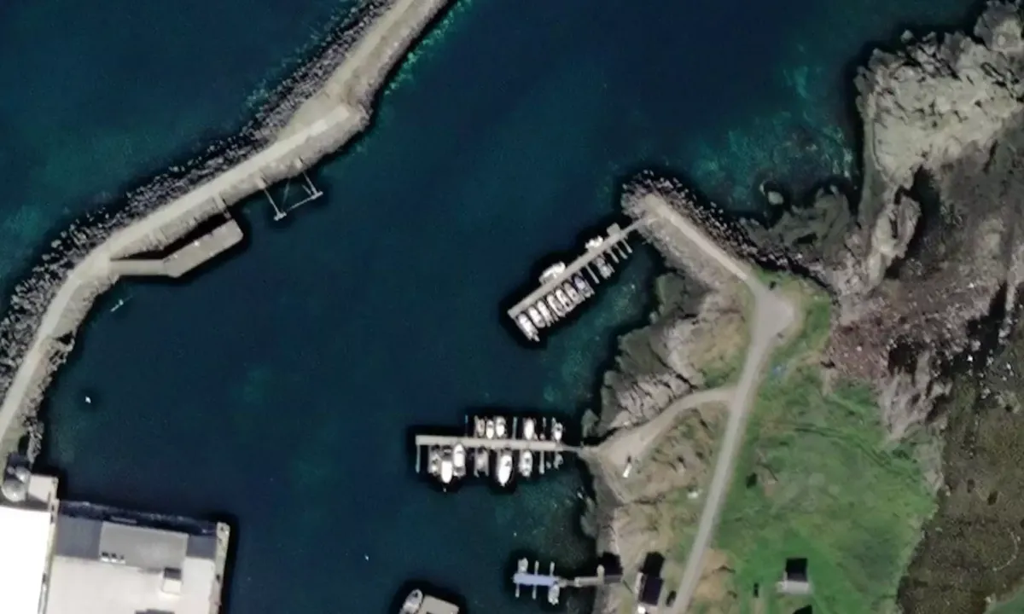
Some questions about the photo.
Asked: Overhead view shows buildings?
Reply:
Yes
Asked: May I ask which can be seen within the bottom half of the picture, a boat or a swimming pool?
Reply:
boat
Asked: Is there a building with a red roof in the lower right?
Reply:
No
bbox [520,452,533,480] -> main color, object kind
white boat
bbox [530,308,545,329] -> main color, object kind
white boat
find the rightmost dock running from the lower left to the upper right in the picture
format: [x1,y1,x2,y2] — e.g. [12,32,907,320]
[508,212,656,340]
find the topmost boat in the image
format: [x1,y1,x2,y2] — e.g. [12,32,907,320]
[585,237,601,250]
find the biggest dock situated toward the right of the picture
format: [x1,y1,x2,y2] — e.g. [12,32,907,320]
[622,171,793,299]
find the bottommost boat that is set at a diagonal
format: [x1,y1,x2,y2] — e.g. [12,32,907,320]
[398,587,421,614]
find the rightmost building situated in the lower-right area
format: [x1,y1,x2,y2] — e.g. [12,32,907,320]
[780,573,809,595]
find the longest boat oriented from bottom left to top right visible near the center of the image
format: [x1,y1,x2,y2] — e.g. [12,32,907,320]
[539,264,565,284]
